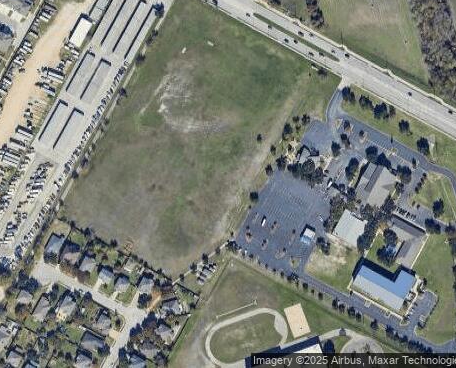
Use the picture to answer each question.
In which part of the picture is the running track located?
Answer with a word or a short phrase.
bottom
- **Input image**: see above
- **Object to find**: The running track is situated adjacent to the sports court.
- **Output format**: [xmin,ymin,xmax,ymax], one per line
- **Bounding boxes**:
[208,310,284,368]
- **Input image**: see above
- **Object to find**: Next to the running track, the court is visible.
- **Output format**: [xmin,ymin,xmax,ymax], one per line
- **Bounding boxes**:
[284,305,310,338]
